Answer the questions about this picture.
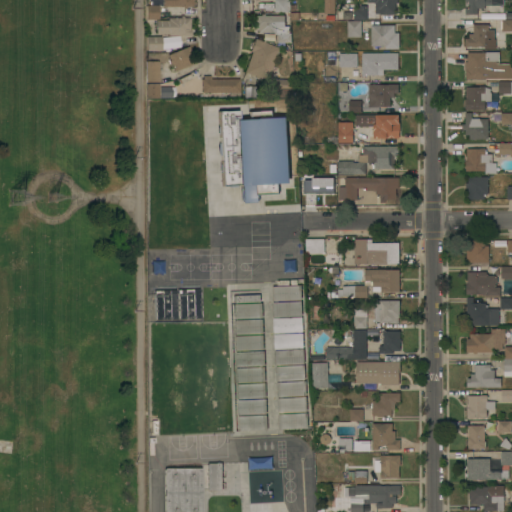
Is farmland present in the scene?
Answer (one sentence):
No, the picture contains no farmland.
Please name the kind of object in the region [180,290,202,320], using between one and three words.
building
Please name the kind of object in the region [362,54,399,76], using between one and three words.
house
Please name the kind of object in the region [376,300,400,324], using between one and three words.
house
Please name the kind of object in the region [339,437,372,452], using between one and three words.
building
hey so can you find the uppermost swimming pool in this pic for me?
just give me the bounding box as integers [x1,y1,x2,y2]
[350,84,369,98]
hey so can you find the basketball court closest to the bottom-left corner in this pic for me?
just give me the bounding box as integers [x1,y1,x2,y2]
[170,435,198,460]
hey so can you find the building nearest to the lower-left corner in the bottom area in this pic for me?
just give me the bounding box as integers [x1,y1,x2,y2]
[164,468,204,512]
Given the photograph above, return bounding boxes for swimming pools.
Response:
[344,270,364,281]
[329,374,342,383]
[504,280,512,294]
[336,427,356,436]
[314,332,330,354]
[350,84,369,98]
